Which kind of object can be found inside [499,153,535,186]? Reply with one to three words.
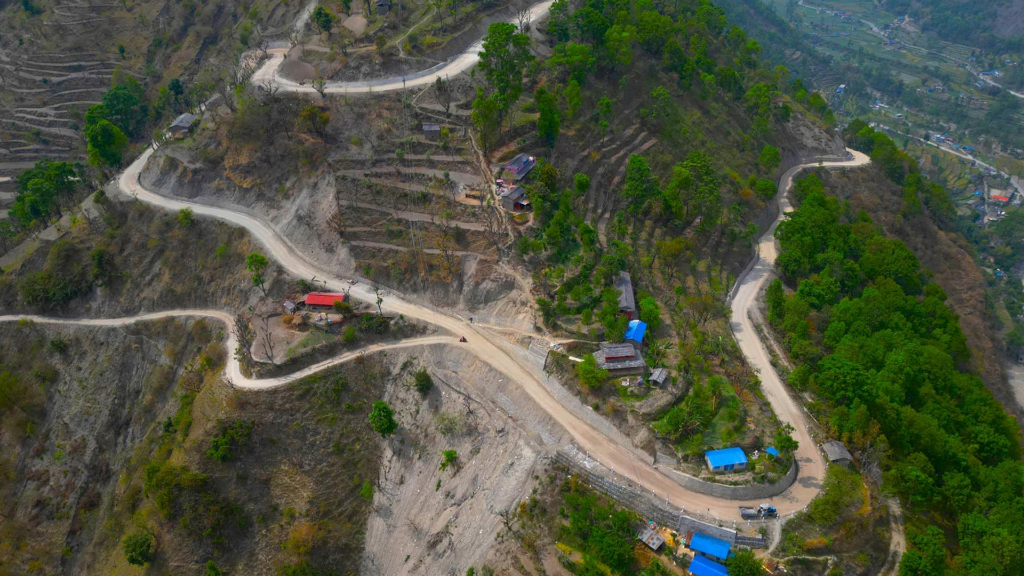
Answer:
house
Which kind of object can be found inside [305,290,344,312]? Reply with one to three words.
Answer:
house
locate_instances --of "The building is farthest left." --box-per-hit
[169,119,198,137]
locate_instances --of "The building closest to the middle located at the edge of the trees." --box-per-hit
[496,184,531,210]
